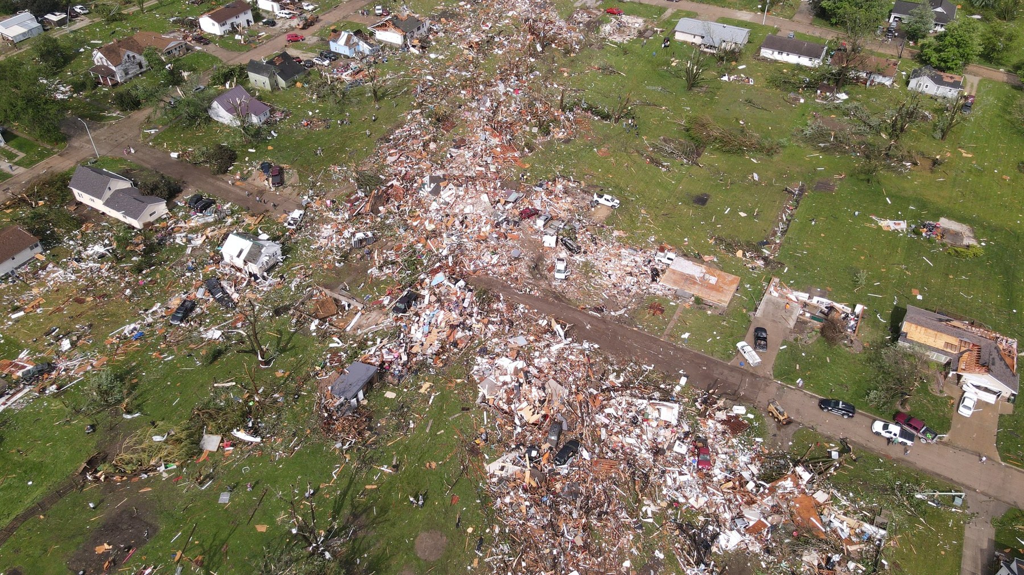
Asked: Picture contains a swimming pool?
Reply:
No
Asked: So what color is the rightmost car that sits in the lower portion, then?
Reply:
white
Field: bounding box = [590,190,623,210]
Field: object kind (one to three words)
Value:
vehicle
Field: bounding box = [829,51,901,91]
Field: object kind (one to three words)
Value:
house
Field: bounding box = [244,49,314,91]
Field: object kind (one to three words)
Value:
building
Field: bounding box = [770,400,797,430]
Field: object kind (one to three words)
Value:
work vehicle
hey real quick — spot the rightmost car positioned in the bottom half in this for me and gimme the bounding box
[950,388,979,420]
